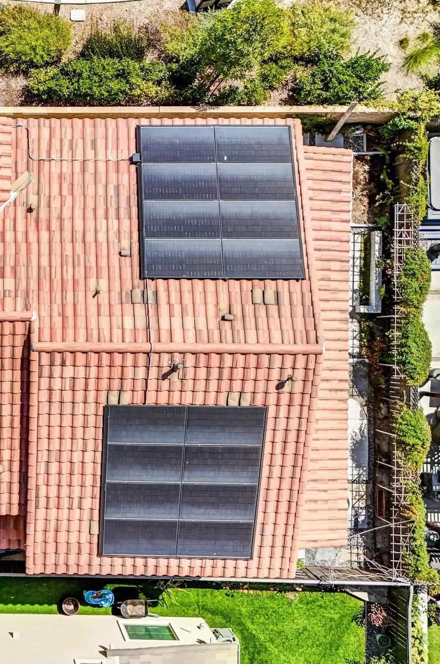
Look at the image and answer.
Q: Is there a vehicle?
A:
No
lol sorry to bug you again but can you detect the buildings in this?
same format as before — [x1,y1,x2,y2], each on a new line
[0,111,356,583]
[0,614,242,664]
